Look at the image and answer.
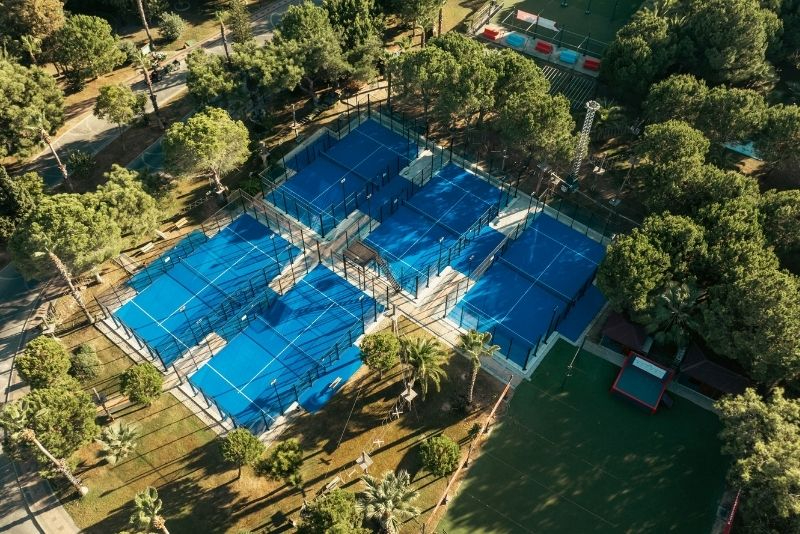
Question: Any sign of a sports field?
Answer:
Yes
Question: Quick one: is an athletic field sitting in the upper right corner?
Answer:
Yes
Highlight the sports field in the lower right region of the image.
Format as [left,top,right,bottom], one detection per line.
[439,338,760,534]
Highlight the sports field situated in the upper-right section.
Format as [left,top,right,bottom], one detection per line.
[490,0,680,59]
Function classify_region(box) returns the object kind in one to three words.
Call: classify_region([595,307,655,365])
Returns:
building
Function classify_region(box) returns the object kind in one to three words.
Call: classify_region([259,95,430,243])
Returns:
sports court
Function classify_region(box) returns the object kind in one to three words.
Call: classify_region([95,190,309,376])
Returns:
sports court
